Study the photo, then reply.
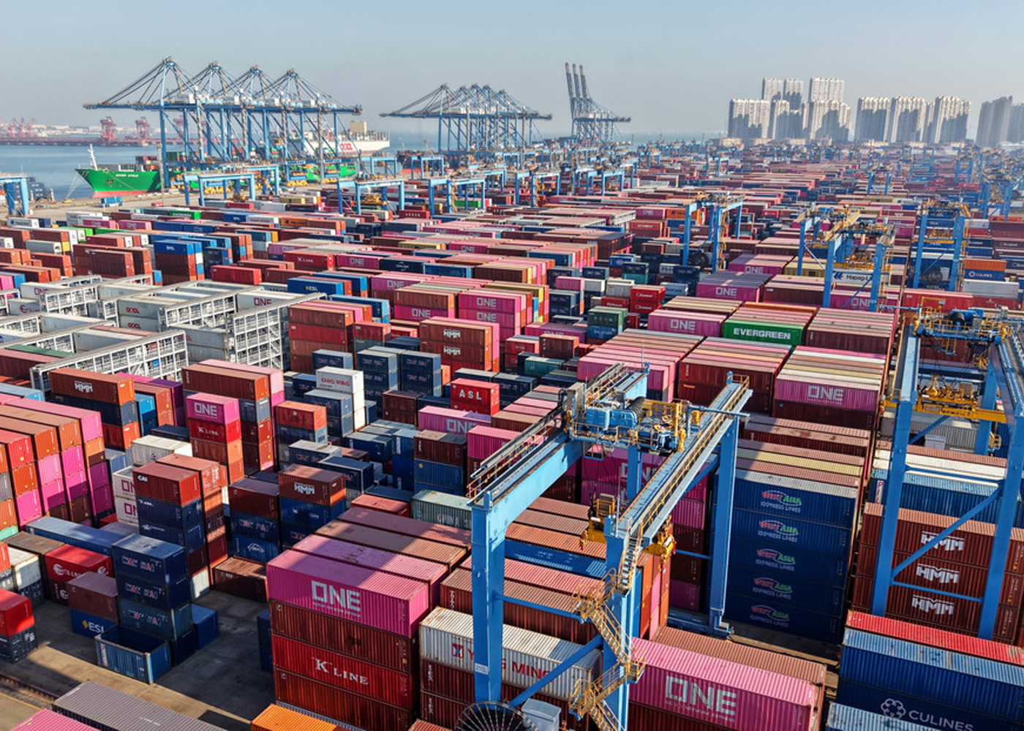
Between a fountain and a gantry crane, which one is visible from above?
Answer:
gantry crane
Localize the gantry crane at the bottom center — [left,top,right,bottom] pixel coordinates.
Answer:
[450,334,769,731]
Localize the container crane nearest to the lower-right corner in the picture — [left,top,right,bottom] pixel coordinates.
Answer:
[869,298,1024,633]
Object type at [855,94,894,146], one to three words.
building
